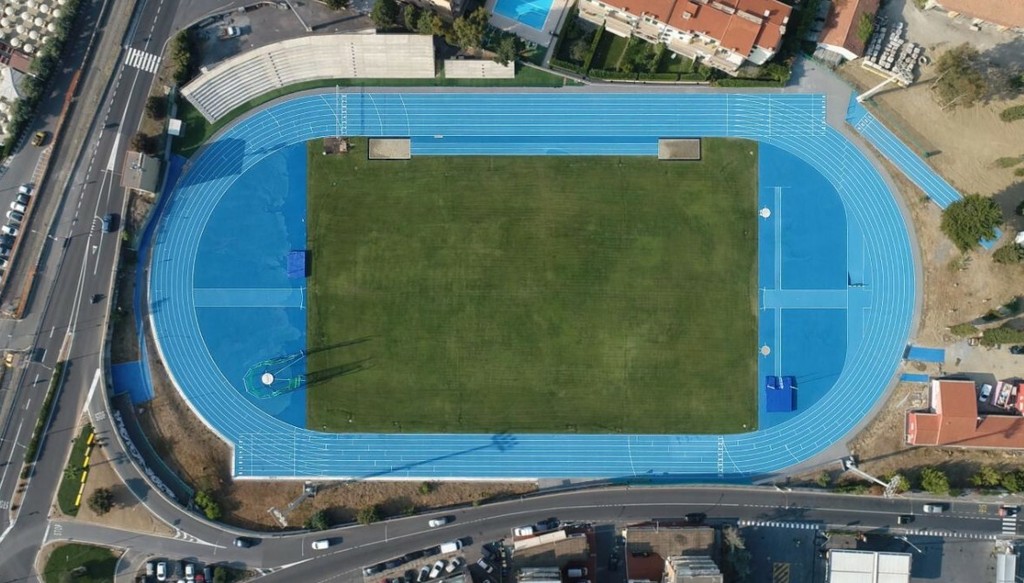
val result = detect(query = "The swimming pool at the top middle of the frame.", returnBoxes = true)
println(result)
[486,0,564,47]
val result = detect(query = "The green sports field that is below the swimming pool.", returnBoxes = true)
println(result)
[307,137,758,434]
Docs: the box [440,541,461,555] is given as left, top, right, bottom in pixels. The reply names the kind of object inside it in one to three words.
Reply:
vehicle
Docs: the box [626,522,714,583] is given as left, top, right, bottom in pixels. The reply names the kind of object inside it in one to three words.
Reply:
building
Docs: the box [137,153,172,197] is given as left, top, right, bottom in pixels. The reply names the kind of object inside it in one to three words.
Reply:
building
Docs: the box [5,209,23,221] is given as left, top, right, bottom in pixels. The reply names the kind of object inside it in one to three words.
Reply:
vehicle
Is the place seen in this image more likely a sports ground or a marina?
sports ground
